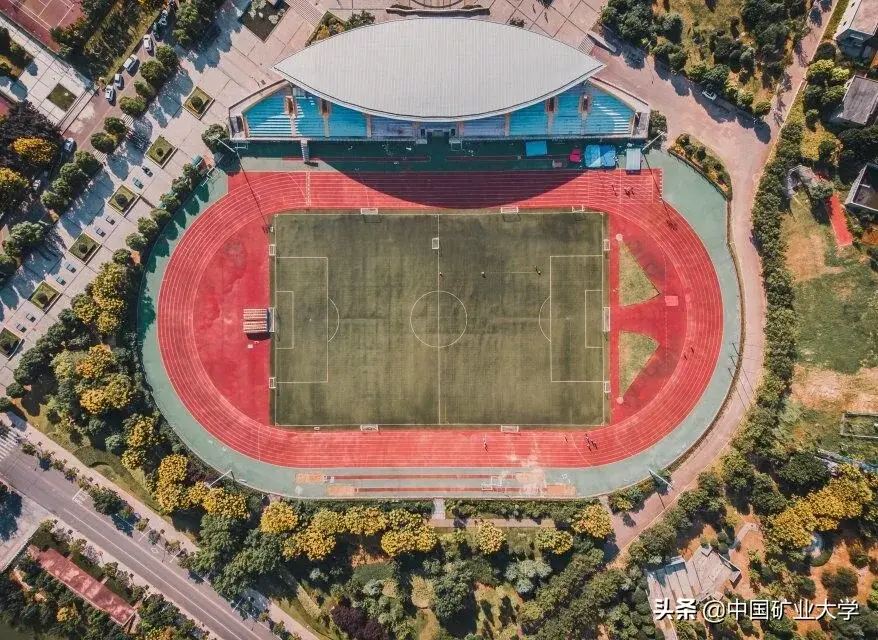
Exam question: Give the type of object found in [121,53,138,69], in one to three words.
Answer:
vehicle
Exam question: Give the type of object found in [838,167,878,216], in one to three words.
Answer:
house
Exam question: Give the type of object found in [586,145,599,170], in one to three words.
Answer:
tent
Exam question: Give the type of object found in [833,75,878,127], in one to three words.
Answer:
house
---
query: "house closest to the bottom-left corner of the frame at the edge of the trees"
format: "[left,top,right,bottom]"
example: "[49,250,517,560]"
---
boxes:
[29,540,143,625]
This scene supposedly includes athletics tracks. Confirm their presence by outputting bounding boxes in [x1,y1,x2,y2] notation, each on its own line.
[158,172,723,468]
